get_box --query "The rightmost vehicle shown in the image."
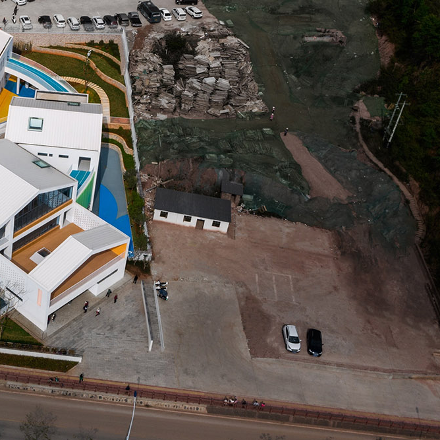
[306,328,323,355]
